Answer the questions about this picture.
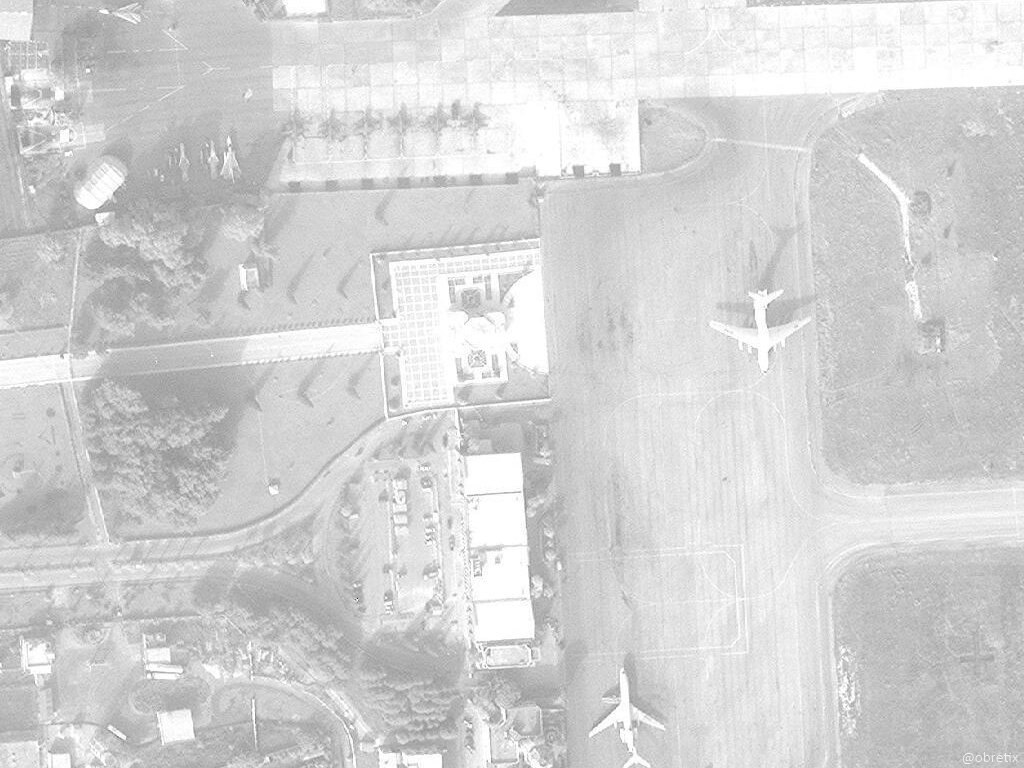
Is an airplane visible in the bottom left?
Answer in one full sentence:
No, I see no airplane in the bottom left.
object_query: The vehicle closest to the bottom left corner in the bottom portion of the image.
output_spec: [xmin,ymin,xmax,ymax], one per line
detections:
[108,723,126,740]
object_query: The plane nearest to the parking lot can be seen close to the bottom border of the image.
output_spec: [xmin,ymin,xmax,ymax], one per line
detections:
[590,668,667,768]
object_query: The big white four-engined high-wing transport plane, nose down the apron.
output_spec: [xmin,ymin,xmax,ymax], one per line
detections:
[710,288,812,372]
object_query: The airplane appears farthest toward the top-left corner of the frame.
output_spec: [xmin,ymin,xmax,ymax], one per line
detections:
[100,3,145,25]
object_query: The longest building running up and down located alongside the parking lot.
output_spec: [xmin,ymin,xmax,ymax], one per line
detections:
[456,446,535,643]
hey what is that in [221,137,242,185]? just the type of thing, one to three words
airplane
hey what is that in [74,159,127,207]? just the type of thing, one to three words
hangar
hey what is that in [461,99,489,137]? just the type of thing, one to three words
airplane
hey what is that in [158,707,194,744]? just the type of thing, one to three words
building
